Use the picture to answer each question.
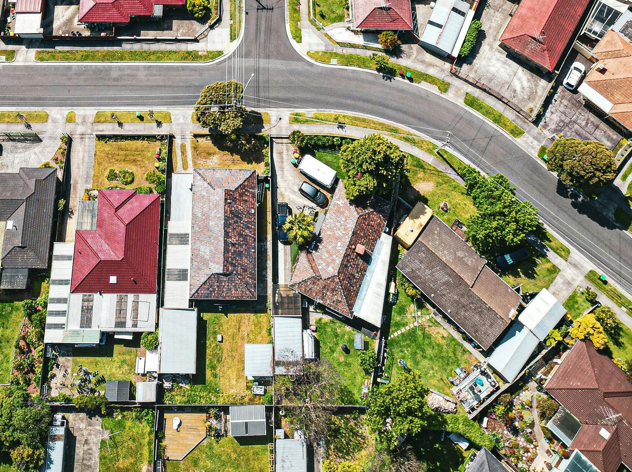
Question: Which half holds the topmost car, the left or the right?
right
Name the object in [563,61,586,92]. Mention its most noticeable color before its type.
white car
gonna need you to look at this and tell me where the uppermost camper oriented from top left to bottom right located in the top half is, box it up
[299,155,338,187]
